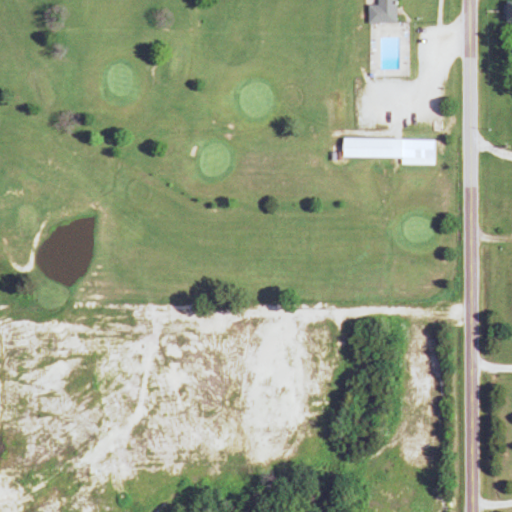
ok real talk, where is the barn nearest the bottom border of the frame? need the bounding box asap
[344,138,436,166]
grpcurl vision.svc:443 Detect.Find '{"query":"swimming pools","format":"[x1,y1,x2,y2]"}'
[370,23,410,78]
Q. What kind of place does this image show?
golf course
